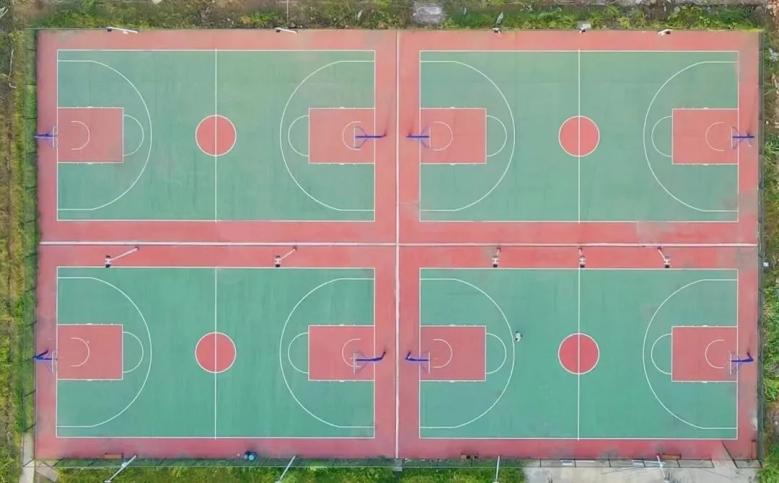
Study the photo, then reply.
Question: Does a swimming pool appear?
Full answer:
No, no swimming pool is visible in the scene.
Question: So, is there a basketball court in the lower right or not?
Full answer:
Yes, you'll find a basketball court in the lower right.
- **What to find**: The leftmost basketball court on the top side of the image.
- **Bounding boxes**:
[37,30,396,243]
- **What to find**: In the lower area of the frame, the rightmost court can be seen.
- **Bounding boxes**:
[399,246,758,459]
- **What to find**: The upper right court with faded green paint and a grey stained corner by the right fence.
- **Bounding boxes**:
[399,30,758,244]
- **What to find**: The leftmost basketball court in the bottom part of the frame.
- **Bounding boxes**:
[37,245,396,459]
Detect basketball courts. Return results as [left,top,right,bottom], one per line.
[37,30,396,243]
[37,245,396,459]
[399,246,758,459]
[399,30,758,244]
